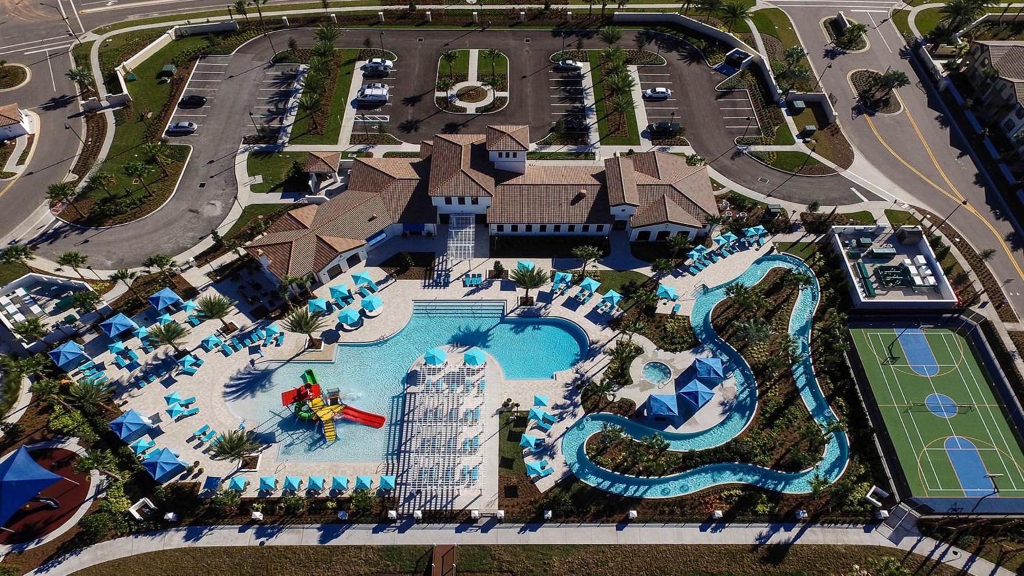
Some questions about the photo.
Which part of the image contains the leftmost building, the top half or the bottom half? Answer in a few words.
top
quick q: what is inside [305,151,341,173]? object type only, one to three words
building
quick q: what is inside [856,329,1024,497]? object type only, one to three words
sports court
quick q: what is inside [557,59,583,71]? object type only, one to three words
vehicle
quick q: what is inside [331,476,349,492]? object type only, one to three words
umbrella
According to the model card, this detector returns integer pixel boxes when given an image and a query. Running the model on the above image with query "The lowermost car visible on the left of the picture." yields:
[167,121,199,133]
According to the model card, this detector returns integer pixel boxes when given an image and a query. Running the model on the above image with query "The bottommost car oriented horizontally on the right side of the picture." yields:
[648,120,680,134]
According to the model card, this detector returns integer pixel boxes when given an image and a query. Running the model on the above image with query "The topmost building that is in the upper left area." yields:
[0,103,28,136]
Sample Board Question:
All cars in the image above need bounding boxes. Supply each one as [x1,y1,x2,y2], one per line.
[648,120,680,134]
[557,59,583,71]
[358,86,388,101]
[363,67,390,79]
[366,57,393,69]
[644,87,672,99]
[178,96,209,108]
[167,121,199,133]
